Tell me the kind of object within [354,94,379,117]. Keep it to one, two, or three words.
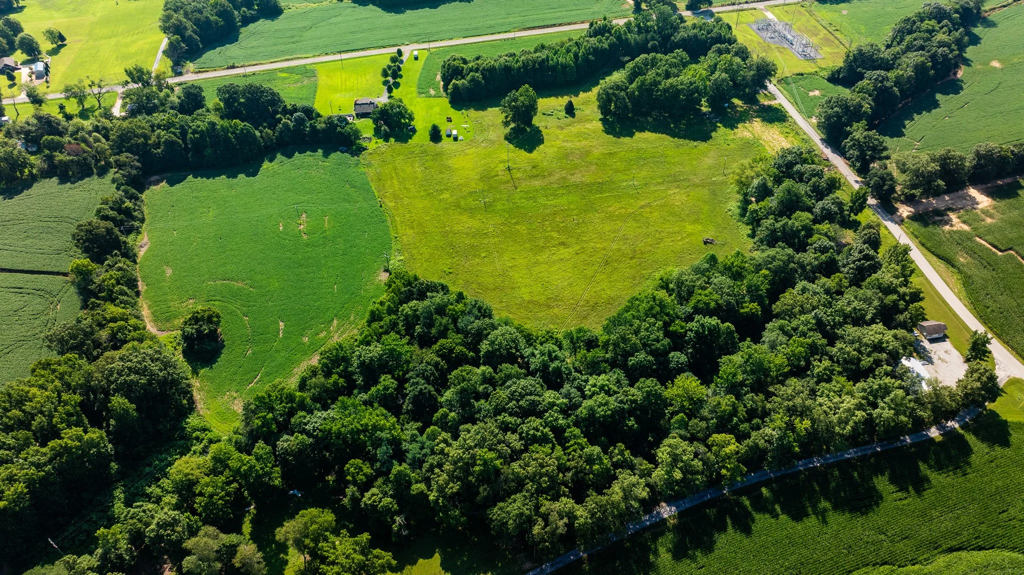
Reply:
house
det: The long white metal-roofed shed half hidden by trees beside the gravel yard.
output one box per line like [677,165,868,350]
[902,352,936,395]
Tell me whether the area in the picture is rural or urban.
rural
